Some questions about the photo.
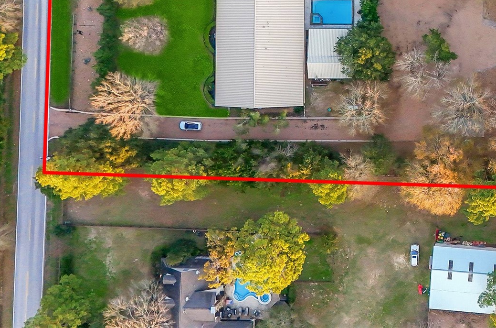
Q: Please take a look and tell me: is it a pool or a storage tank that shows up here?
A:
pool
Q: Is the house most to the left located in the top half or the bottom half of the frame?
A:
bottom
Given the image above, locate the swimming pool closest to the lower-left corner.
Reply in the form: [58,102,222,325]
[231,283,258,303]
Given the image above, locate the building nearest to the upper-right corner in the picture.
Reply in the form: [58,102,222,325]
[306,29,353,78]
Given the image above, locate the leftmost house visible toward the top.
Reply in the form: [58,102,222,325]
[215,0,305,107]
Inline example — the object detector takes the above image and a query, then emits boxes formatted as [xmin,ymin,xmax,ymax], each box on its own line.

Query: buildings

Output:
[215,0,305,107]
[429,240,496,315]
[306,29,353,78]
[159,258,254,328]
